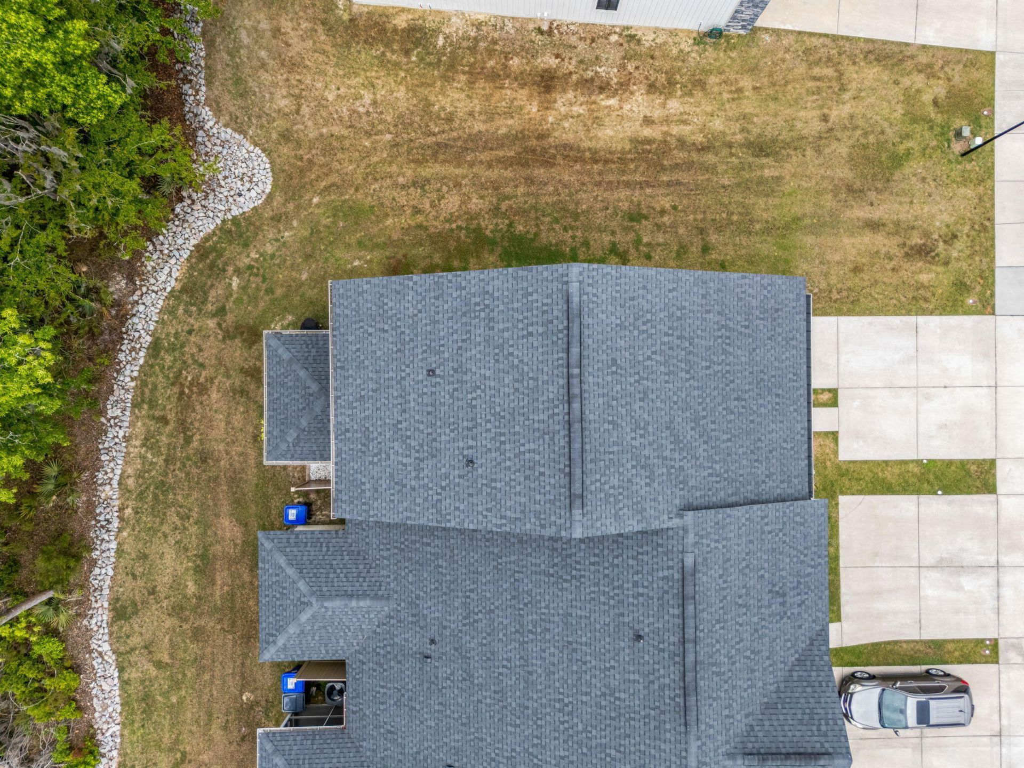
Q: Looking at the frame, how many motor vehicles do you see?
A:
1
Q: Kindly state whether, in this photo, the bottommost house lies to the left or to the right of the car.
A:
to its left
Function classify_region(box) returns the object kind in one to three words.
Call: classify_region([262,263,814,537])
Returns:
house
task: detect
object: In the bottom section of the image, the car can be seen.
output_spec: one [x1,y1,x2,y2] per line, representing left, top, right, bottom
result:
[841,669,977,741]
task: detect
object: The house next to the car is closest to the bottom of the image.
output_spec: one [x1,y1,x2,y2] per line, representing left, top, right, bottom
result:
[256,498,855,768]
